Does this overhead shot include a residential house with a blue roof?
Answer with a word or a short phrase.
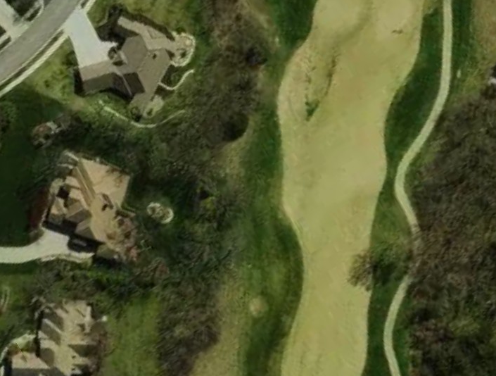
No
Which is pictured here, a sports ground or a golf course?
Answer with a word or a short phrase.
golf course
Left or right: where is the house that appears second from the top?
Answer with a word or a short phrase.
left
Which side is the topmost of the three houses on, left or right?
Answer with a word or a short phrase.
left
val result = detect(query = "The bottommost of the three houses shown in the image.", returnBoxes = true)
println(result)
[8,300,97,376]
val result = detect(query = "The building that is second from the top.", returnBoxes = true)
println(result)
[47,155,132,258]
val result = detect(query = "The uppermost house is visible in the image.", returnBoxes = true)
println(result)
[78,12,180,118]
